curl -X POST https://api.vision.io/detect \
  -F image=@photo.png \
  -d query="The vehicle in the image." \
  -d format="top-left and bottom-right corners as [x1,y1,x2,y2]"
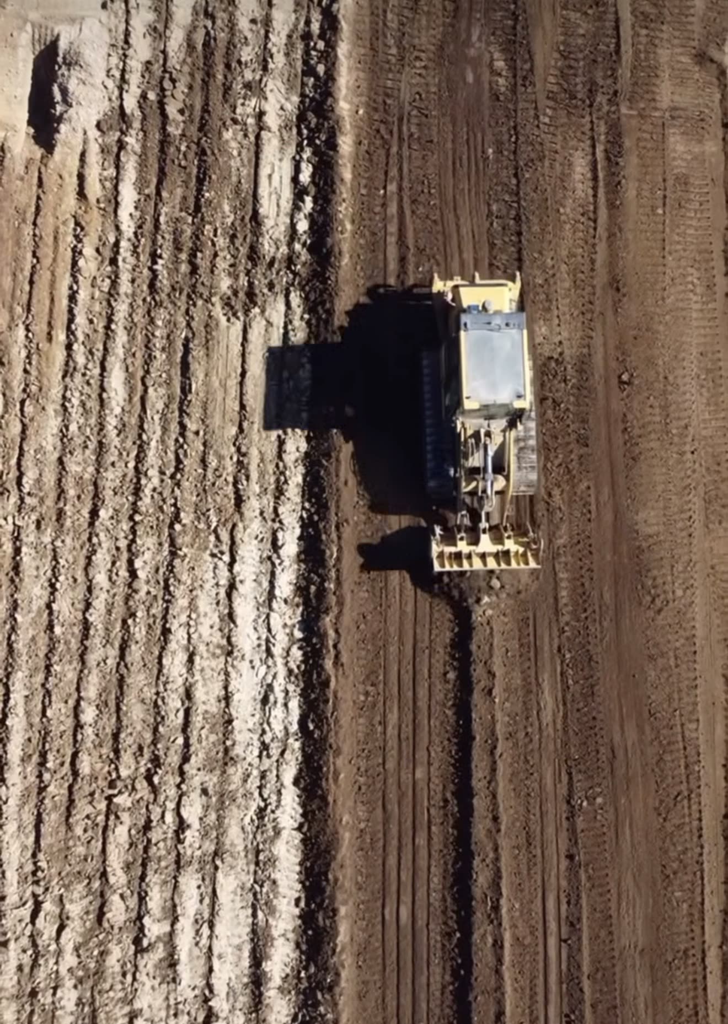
[419,272,542,573]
